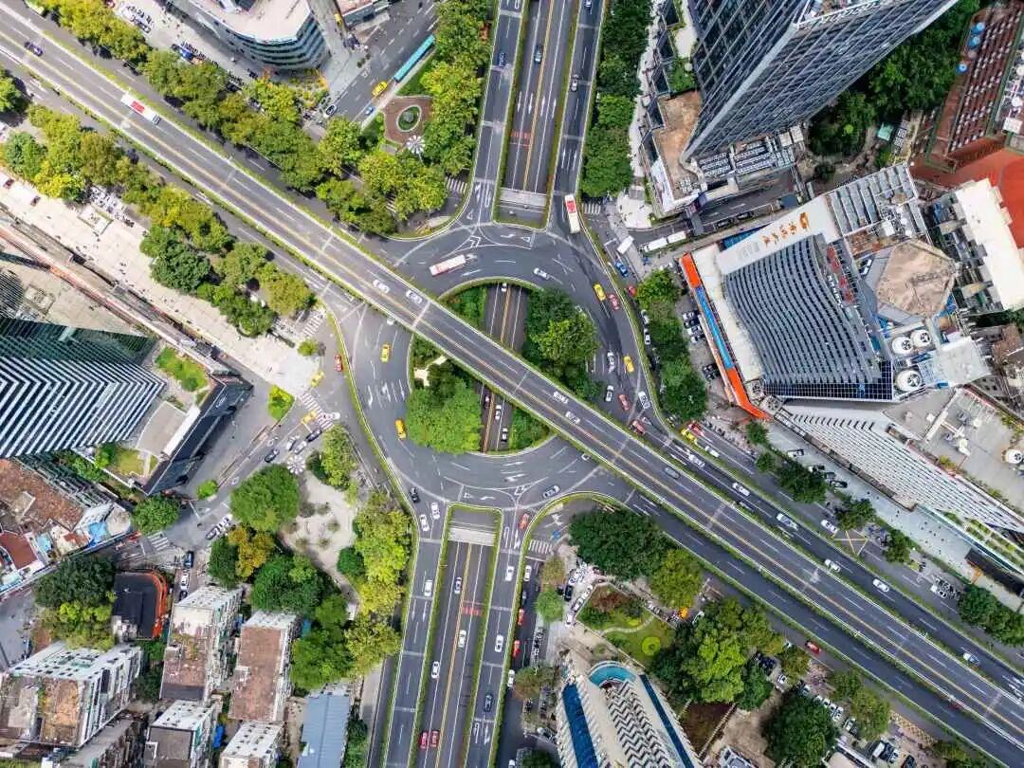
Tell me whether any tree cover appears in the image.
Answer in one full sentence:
Yes, tree cover can be seen from above here.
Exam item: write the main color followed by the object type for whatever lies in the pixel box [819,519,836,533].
white car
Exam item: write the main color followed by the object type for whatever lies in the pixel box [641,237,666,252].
white vehicle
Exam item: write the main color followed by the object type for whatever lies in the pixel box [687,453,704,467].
white car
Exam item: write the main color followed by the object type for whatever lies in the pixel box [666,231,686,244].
white vehicle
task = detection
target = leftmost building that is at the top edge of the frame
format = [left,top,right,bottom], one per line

[174,0,329,75]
